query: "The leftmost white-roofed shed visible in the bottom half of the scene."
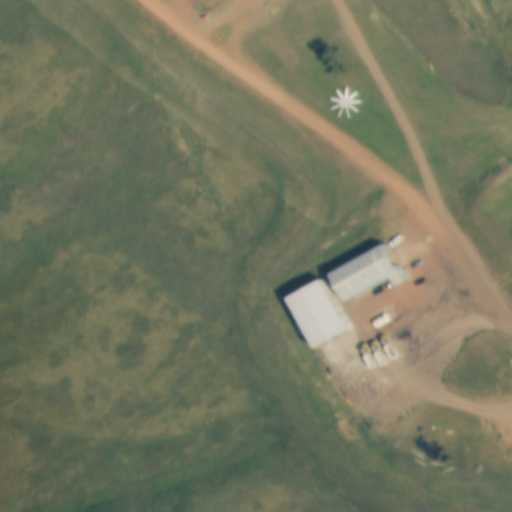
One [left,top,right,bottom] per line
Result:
[284,280,353,348]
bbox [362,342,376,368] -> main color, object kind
white vehicle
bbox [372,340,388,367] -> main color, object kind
white vehicle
